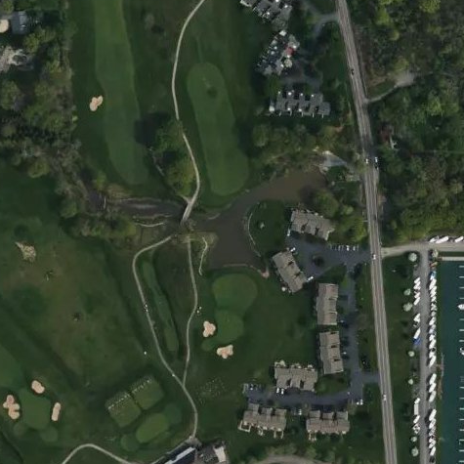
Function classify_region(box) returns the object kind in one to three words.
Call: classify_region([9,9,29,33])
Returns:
house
